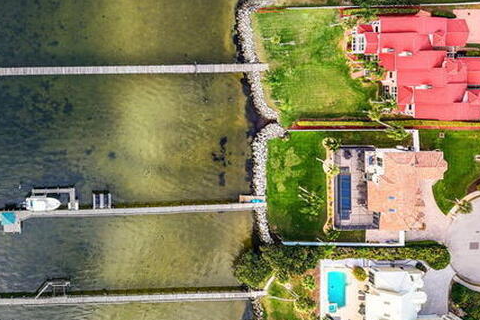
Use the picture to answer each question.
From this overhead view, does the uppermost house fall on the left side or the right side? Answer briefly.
right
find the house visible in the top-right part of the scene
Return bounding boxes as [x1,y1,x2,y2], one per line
[345,17,480,120]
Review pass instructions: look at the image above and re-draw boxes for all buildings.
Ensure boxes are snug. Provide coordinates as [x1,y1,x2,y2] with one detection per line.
[358,267,463,320]
[360,149,450,231]
[345,17,480,120]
